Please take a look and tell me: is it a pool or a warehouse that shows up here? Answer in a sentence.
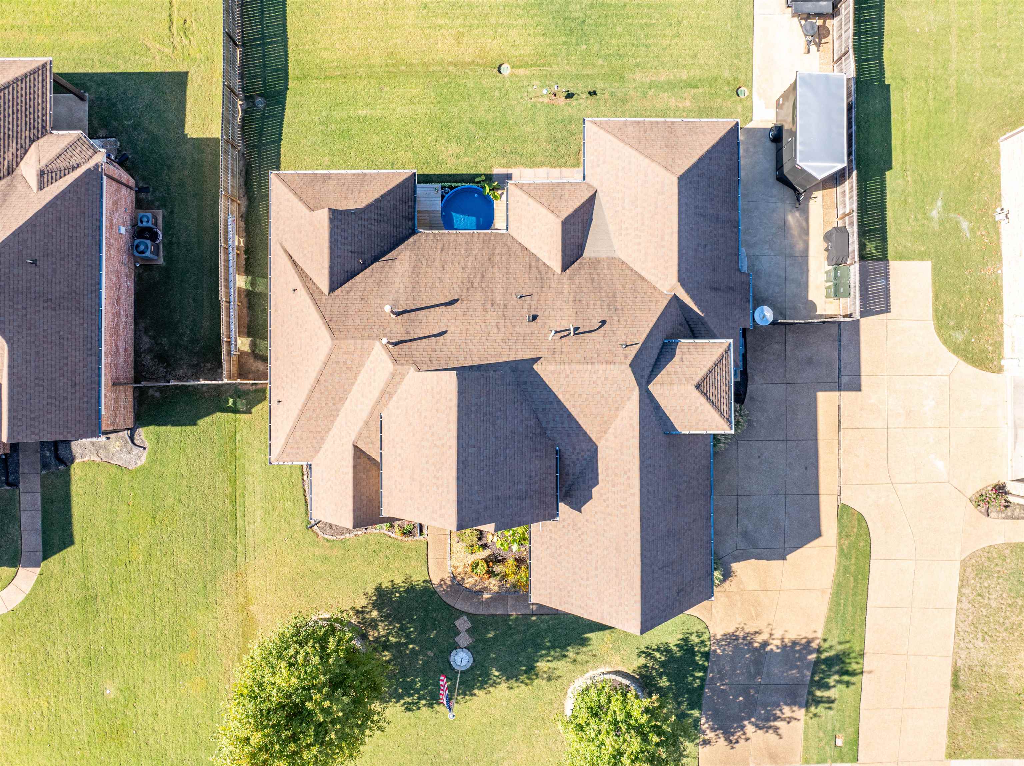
Visible in the photo is a pool.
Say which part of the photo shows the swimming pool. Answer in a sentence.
The swimming pool is located in the top region of the scene.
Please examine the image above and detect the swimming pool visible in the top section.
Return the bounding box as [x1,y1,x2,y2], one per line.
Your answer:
[441,185,494,228]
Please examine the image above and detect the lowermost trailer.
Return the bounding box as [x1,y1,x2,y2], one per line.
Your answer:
[769,71,847,207]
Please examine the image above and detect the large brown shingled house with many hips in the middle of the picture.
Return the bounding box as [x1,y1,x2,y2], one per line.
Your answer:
[268,117,754,639]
